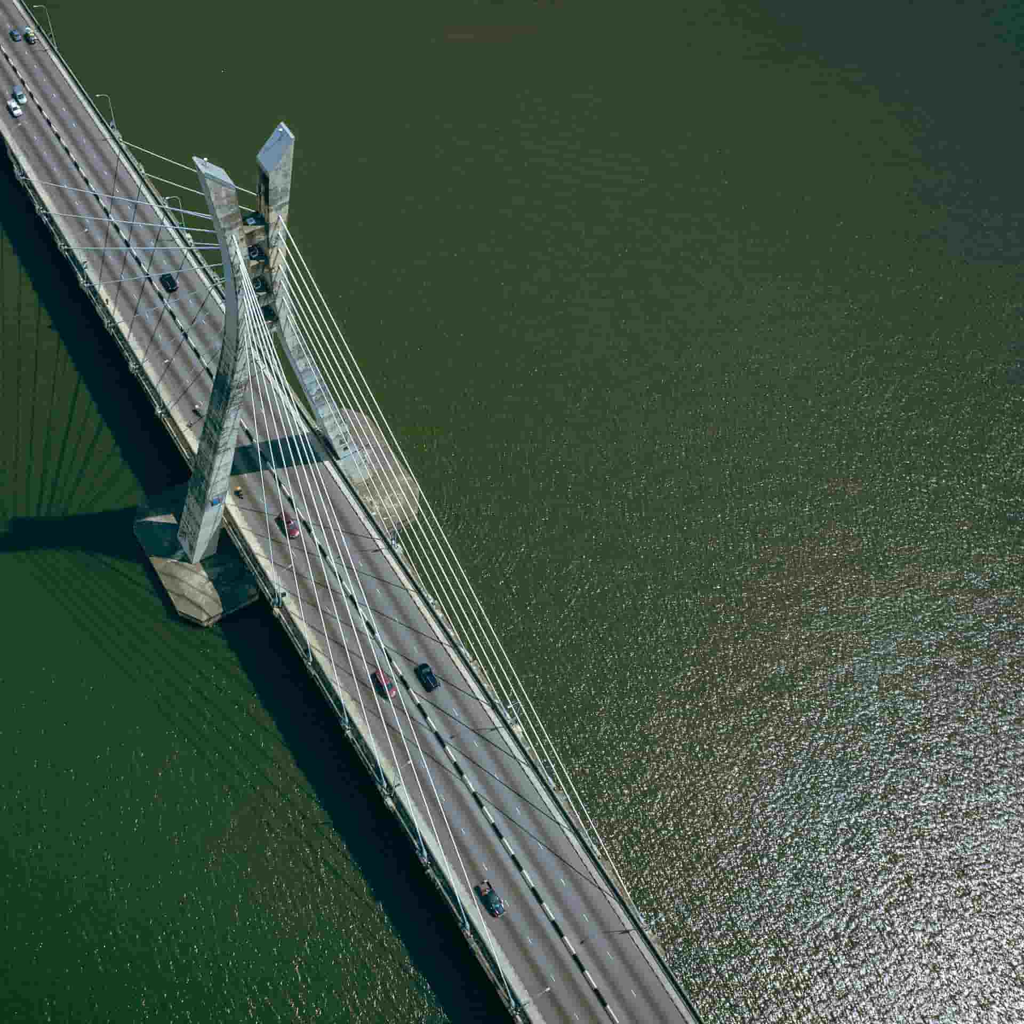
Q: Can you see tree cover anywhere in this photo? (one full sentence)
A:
No, the scene doesn't show any tree cover.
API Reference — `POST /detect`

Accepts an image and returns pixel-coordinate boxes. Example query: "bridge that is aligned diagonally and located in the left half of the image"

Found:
[0,0,714,1024]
